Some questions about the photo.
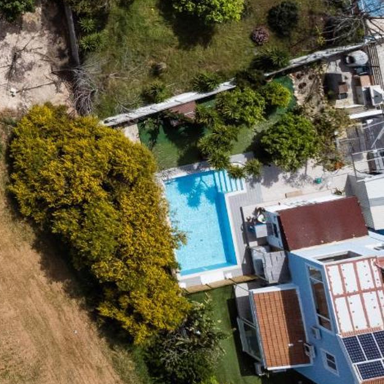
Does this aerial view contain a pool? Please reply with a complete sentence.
Yes, I can see a pool in this picture.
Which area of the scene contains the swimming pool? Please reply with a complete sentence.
The swimming pool appears toward the center of the photo.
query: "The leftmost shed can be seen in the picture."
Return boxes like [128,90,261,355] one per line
[160,100,196,126]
